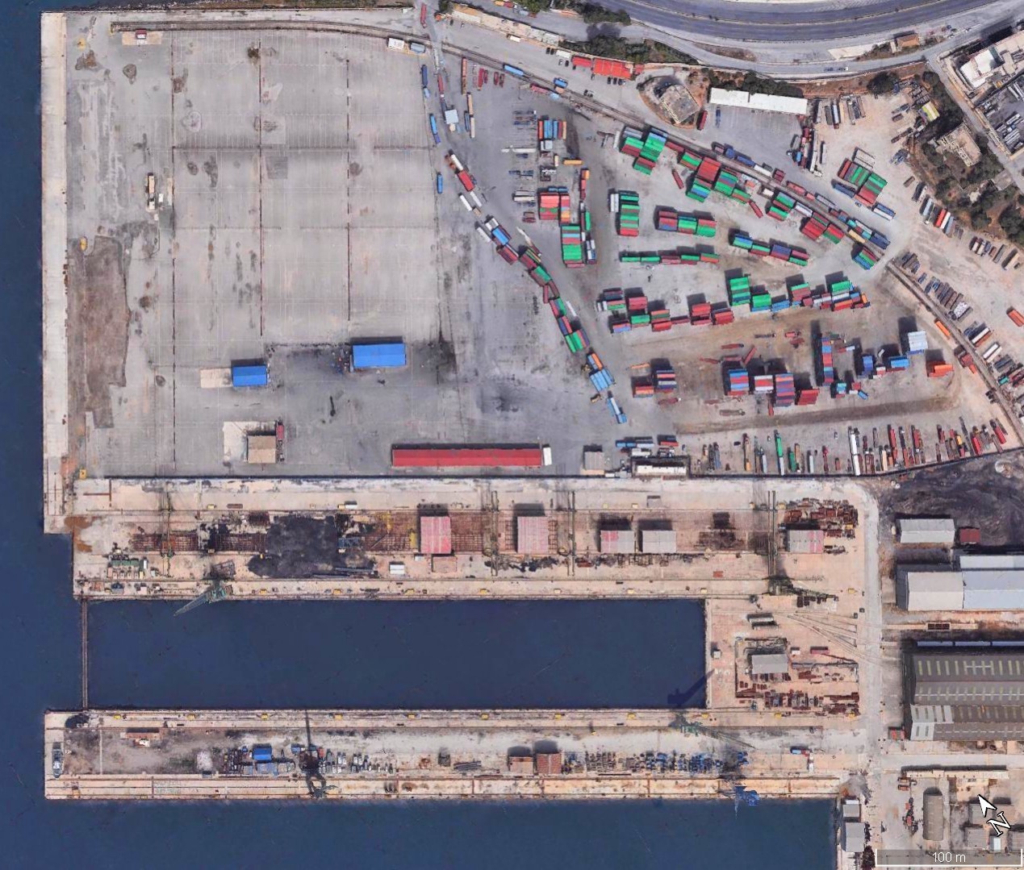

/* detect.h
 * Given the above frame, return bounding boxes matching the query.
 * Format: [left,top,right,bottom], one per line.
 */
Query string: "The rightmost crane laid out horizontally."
[765,577,837,600]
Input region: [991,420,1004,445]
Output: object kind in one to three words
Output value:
vehicle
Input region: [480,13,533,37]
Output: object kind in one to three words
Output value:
building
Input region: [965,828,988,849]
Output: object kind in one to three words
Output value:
building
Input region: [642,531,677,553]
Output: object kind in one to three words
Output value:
shed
